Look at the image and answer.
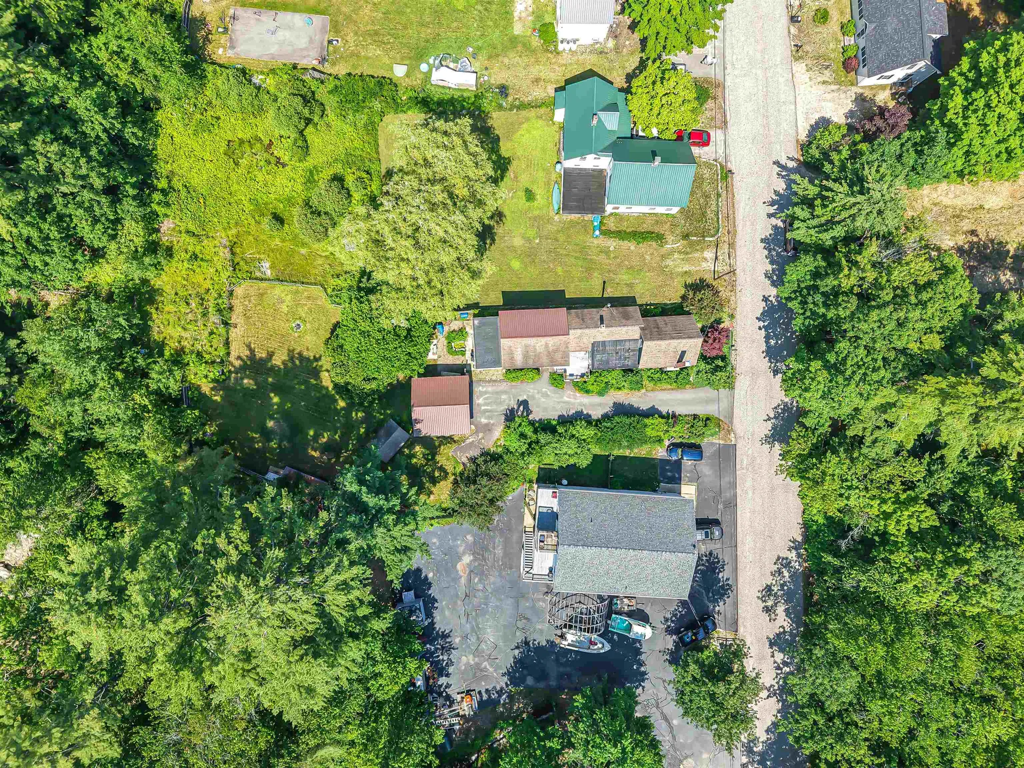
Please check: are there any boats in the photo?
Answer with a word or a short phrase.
Yes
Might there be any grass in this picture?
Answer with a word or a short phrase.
Yes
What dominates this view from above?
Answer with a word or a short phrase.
trees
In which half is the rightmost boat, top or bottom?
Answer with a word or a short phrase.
bottom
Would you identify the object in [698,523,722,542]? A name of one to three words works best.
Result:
vehicle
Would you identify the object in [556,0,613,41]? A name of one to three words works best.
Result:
shed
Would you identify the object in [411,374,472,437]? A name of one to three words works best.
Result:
building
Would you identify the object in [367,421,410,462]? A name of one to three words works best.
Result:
shed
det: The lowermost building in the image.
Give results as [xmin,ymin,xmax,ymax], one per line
[552,482,699,600]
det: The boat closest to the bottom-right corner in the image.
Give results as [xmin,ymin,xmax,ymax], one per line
[607,617,658,643]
